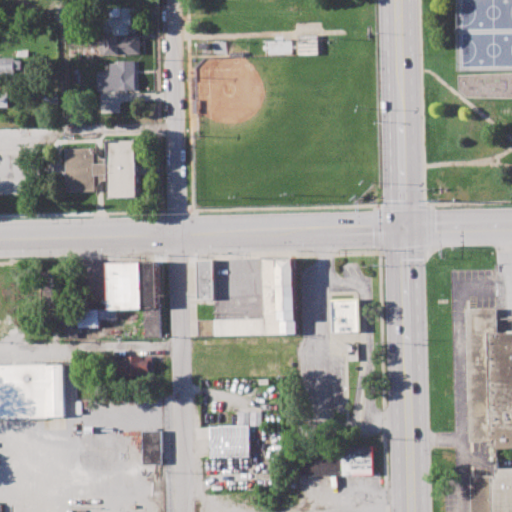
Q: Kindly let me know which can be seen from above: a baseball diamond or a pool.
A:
baseball diamond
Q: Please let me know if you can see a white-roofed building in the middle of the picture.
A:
Yes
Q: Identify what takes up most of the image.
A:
paved ground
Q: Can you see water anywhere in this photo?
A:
No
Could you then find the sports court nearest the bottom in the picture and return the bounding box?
[463,34,512,67]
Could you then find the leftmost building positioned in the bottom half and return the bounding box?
[0,364,63,420]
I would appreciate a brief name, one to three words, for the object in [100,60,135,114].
house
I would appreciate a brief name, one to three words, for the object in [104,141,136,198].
building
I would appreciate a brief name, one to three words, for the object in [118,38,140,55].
house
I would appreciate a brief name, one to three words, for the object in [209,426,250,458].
building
